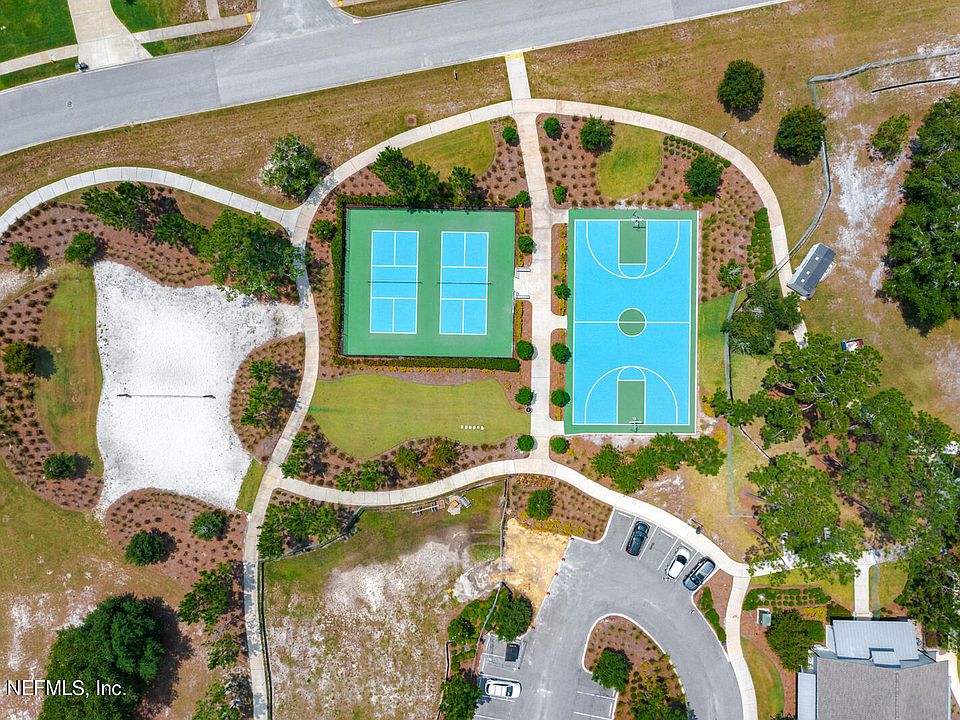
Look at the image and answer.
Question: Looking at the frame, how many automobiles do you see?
4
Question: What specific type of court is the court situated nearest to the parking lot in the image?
basketball court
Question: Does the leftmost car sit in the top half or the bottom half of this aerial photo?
bottom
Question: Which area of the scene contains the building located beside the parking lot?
bottom right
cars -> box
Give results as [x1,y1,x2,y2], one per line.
[666,544,691,580]
[485,677,521,698]
[624,519,648,557]
[683,555,715,591]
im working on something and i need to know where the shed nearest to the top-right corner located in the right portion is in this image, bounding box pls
[779,240,836,304]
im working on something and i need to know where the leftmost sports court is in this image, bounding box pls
[95,261,305,524]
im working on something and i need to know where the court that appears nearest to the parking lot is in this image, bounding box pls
[564,209,699,436]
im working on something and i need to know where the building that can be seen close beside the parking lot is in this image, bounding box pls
[798,611,949,720]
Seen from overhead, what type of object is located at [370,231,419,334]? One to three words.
sports court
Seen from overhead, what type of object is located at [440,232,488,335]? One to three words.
sports court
